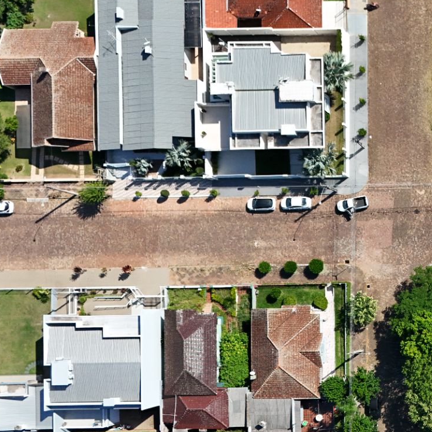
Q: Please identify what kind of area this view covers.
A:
residential area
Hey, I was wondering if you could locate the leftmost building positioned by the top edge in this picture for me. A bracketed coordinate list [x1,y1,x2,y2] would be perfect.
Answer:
[0,21,98,151]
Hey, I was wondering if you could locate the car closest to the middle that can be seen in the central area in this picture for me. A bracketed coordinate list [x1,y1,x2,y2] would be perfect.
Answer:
[248,196,276,212]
